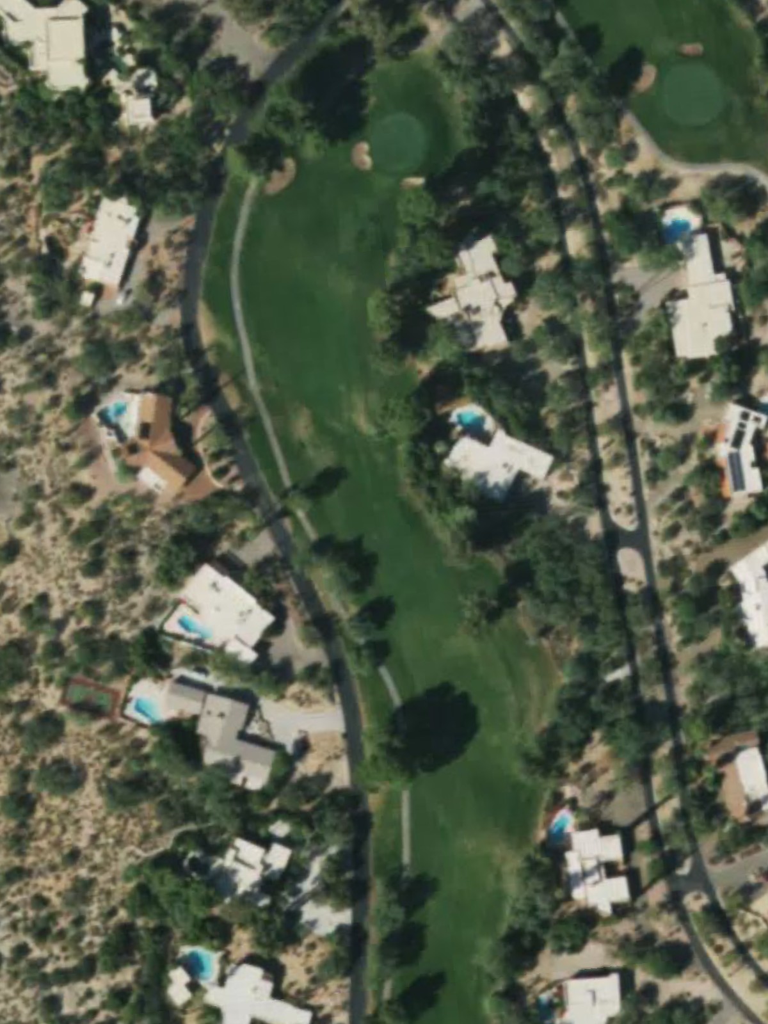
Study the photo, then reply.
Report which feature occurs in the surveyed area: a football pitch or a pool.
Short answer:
pool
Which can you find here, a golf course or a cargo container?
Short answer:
golf course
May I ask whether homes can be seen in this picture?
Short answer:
Yes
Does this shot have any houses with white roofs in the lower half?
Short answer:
Yes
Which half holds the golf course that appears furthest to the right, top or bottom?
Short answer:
top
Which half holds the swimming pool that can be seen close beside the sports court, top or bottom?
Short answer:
bottom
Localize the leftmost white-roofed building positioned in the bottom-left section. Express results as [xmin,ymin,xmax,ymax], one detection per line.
[167,967,191,1007]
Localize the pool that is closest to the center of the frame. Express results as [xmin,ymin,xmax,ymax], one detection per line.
[456,410,487,434]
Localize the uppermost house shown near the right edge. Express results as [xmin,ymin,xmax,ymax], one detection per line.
[666,232,736,358]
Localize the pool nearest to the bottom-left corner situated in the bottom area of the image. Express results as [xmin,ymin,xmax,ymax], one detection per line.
[183,948,213,982]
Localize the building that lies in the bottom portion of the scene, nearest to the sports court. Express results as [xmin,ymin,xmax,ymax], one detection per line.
[167,682,277,791]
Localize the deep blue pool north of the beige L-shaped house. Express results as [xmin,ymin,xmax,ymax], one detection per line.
[658,218,693,245]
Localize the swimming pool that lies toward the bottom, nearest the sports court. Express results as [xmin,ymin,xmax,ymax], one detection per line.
[134,695,164,724]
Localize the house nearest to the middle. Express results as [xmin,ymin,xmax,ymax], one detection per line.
[446,428,554,499]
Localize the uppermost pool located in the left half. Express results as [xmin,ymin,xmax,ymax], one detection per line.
[97,401,128,427]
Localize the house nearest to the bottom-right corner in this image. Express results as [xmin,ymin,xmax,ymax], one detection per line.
[563,973,621,1024]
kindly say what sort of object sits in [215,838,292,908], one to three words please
house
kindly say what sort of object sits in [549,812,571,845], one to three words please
swimming pool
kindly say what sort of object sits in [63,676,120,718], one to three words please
sports court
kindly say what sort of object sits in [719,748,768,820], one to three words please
house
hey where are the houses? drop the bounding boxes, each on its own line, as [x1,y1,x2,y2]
[125,393,195,496]
[202,965,312,1024]
[269,820,291,838]
[730,540,768,647]
[79,196,140,286]
[446,428,554,499]
[167,967,191,1007]
[563,973,621,1024]
[167,682,277,791]
[0,0,88,90]
[215,838,292,908]
[184,563,275,663]
[427,234,517,351]
[715,402,768,499]
[565,829,632,917]
[719,748,768,820]
[127,96,156,127]
[666,232,736,358]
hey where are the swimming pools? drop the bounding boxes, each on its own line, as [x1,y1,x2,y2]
[658,218,693,245]
[183,948,213,982]
[549,812,571,845]
[456,410,487,434]
[97,401,128,427]
[177,614,213,640]
[758,401,768,415]
[134,695,164,724]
